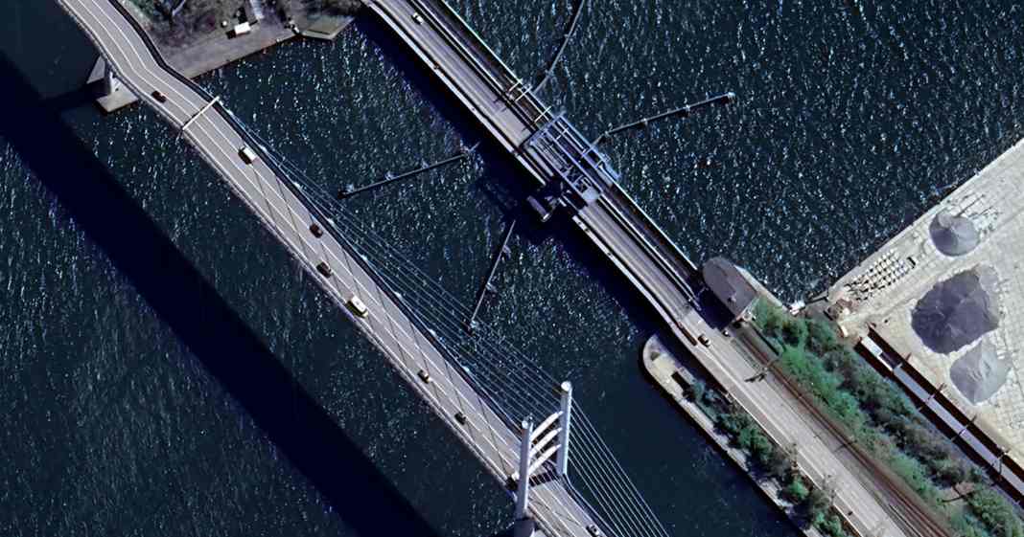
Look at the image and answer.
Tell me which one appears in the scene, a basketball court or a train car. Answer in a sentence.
Looking from above, you can make out a train car.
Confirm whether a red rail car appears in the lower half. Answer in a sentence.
No, no red rail car appears in the lower half.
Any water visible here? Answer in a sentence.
Yes, some water is visible.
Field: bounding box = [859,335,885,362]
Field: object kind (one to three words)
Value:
rail car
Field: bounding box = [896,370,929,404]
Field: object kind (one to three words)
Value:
rail car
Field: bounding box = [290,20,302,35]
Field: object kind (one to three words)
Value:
vehicle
